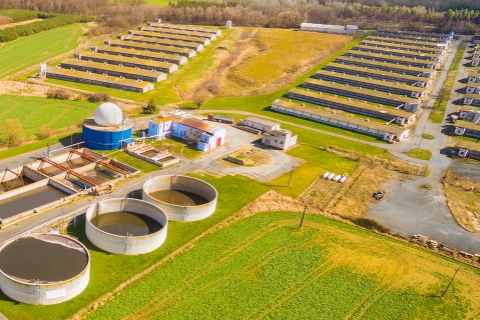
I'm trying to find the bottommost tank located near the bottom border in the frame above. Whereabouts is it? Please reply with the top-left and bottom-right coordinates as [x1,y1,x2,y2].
[0,229,89,304]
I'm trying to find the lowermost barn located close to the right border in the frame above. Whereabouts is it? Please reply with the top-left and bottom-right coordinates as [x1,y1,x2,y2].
[450,136,480,158]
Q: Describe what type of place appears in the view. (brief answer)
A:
industrial area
